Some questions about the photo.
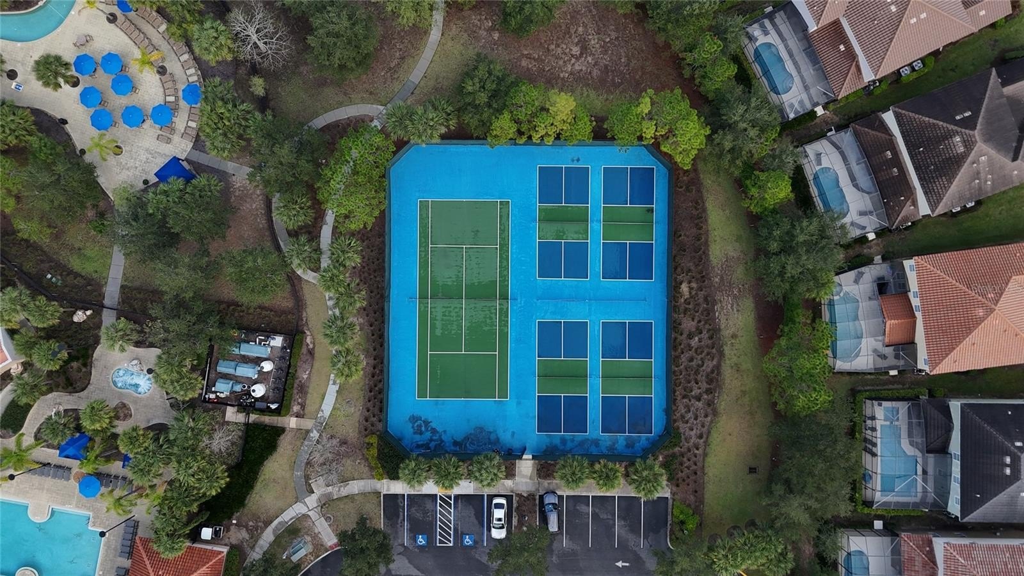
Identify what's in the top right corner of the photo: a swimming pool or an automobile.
swimming pool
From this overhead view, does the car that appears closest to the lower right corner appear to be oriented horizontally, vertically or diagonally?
vertically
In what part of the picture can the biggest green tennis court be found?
center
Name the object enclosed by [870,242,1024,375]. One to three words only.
house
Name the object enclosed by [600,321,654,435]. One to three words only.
sports court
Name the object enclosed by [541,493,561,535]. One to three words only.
car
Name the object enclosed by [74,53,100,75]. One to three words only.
umbrella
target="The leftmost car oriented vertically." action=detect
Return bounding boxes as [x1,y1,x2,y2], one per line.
[489,498,508,540]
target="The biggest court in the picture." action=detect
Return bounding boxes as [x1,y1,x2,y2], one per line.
[387,145,668,456]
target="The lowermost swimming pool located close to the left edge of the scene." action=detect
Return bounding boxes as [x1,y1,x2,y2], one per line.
[0,497,105,576]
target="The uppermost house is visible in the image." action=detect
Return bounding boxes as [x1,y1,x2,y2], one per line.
[795,0,1012,101]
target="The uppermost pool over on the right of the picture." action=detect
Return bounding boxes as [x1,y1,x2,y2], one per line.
[755,40,796,97]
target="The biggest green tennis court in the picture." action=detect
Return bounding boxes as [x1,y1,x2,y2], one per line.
[416,200,510,400]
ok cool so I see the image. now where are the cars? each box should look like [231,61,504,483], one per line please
[541,493,561,535]
[489,498,508,540]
